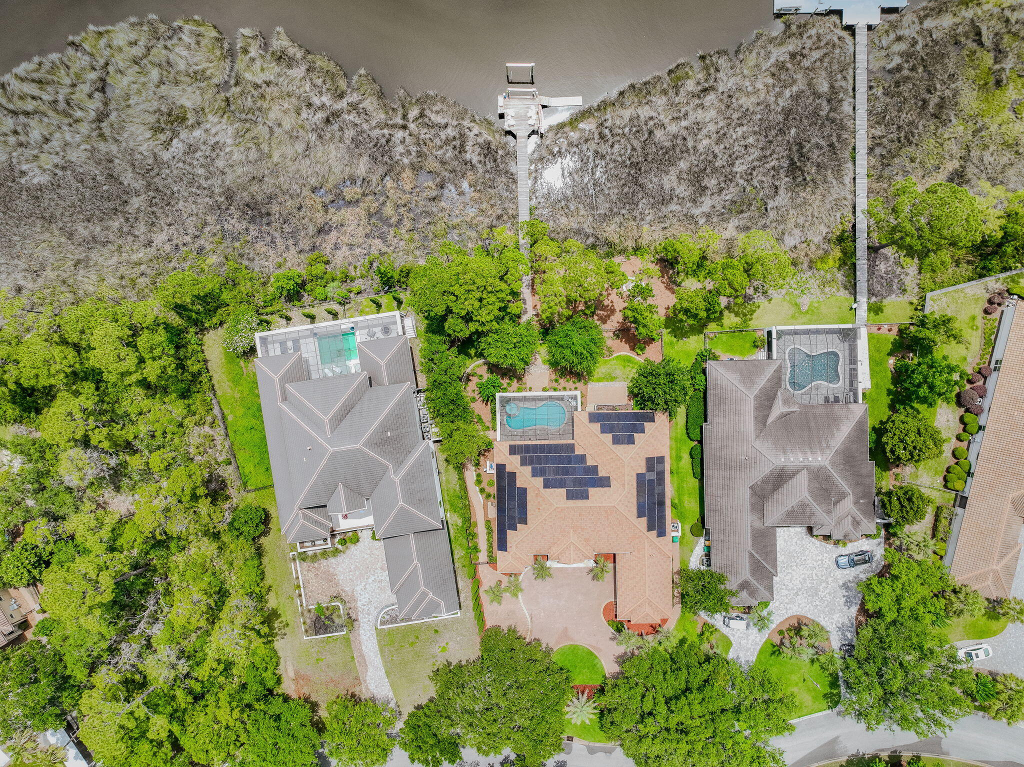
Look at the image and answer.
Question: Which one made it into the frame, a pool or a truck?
pool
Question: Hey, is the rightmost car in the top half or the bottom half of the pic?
bottom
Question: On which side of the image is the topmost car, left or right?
right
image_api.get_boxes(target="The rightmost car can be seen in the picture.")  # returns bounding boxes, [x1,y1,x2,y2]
[956,641,994,663]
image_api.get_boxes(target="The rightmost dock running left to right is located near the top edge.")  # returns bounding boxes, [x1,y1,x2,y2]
[763,0,910,38]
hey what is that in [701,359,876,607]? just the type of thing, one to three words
house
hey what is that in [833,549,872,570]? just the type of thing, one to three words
car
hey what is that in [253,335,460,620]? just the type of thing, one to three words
house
